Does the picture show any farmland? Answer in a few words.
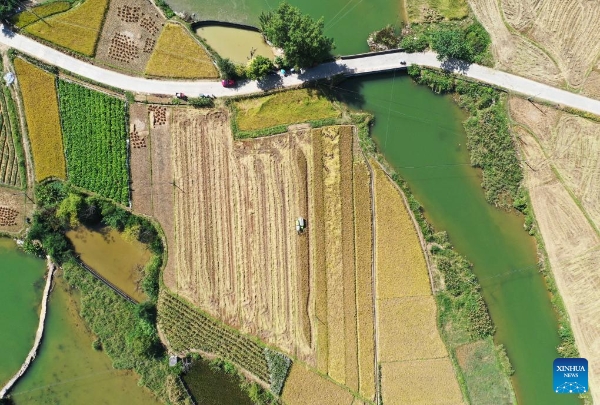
Yes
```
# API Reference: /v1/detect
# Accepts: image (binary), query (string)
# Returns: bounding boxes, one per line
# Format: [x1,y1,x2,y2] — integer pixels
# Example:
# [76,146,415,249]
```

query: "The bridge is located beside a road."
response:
[338,47,408,79]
